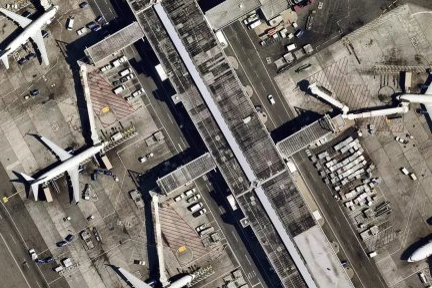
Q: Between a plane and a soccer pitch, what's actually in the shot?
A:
plane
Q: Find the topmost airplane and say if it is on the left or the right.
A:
left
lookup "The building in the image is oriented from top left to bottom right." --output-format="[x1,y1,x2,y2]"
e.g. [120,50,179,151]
[126,0,356,288]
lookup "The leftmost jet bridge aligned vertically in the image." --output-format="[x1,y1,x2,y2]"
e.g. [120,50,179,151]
[78,63,100,146]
